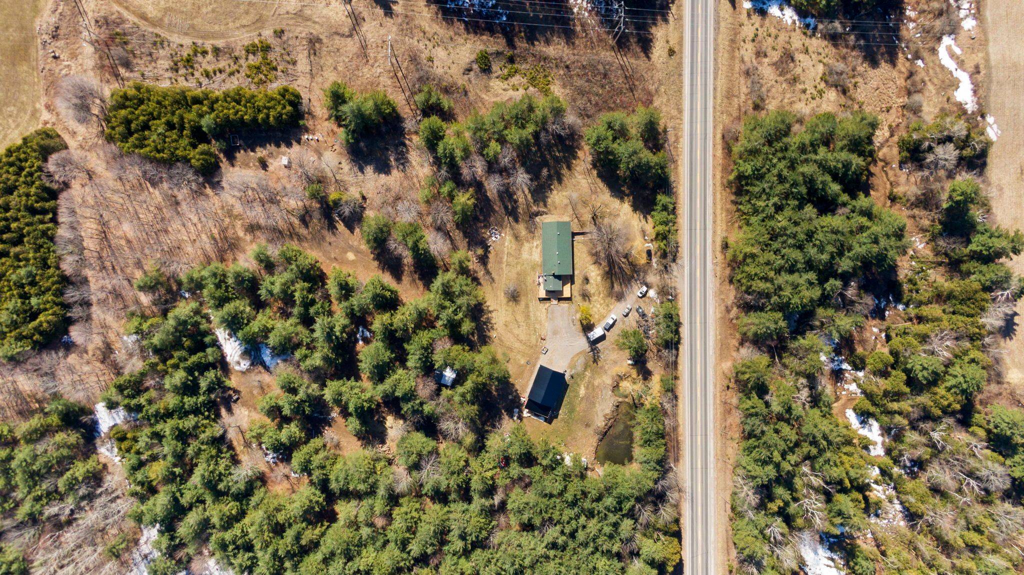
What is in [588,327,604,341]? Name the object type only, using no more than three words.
camper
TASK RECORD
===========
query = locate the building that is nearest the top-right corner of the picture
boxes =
[540,221,596,303]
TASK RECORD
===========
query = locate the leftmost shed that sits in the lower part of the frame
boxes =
[435,365,457,387]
